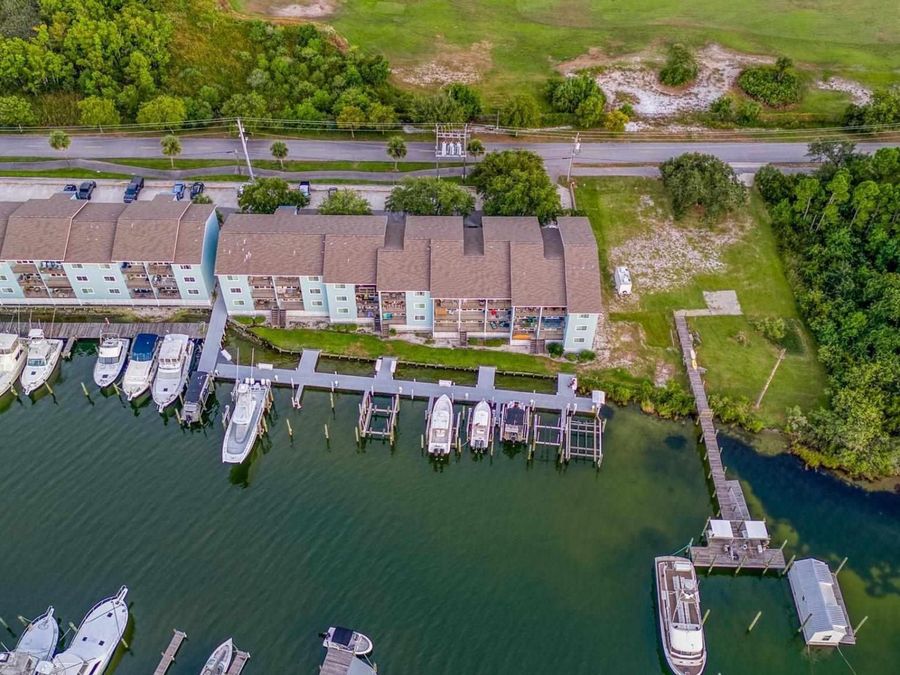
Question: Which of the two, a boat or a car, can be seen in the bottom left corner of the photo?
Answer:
boat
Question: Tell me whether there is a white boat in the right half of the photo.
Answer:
Yes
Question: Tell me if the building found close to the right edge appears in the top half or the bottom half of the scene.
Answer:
bottom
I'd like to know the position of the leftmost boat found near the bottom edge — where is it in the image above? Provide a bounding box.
[1,606,56,675]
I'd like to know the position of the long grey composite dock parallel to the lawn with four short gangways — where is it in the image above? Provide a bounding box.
[214,350,597,419]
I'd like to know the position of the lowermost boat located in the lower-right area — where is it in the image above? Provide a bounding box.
[650,559,707,675]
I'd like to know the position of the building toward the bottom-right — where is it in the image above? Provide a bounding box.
[786,565,858,655]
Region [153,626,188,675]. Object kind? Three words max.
pier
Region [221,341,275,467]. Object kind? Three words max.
boat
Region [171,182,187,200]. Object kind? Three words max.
car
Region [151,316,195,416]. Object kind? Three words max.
boat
